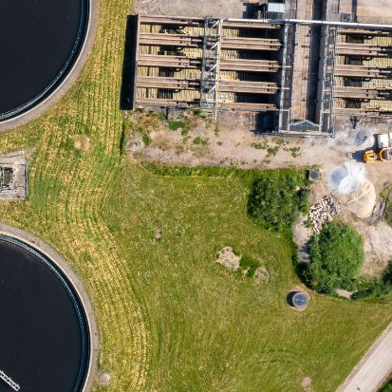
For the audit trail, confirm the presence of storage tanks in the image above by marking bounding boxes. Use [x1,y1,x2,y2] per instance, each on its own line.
[0,0,97,131]
[0,220,98,392]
